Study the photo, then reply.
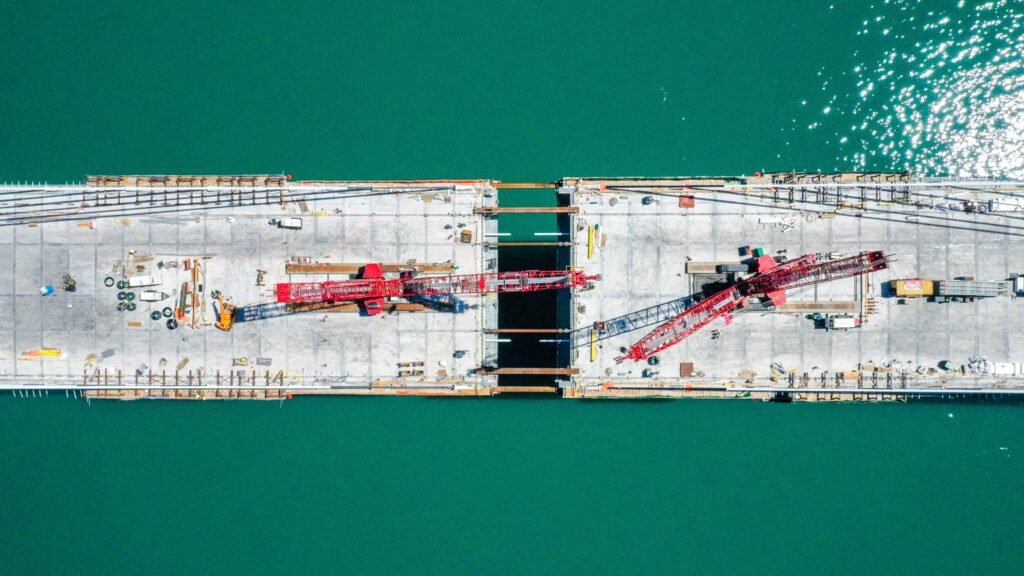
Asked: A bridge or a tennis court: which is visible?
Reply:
bridge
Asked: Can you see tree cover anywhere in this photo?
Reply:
No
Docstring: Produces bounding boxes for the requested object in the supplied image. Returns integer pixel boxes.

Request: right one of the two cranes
[617,252,896,361]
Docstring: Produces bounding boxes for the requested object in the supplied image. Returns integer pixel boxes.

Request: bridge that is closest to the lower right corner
[557,183,1024,393]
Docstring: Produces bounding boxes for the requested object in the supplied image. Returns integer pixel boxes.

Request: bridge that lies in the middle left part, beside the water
[0,185,497,391]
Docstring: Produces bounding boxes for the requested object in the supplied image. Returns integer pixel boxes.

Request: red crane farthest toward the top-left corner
[269,262,603,313]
